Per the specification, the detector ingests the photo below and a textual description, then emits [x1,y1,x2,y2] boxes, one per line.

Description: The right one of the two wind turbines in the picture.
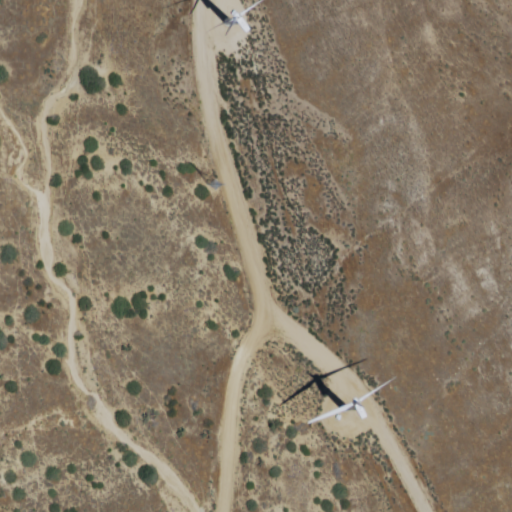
[311,379,392,422]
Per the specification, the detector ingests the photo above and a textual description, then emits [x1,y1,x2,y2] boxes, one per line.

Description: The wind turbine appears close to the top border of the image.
[212,0,259,32]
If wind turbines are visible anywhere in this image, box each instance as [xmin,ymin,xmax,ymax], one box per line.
[311,379,392,422]
[212,0,259,32]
